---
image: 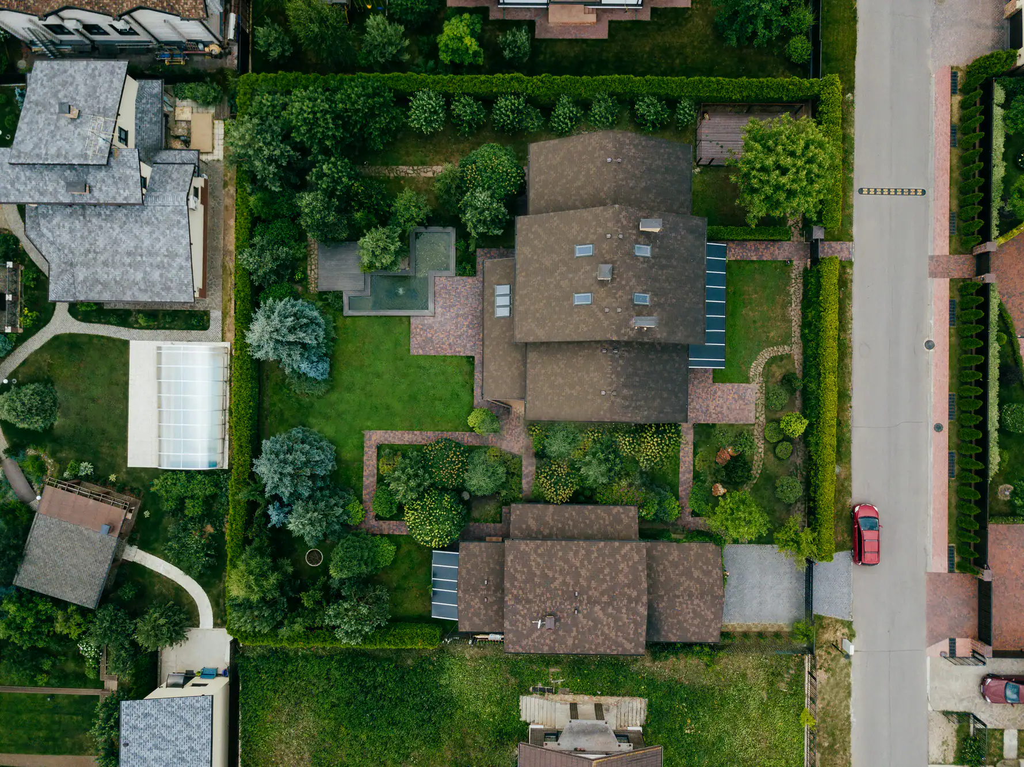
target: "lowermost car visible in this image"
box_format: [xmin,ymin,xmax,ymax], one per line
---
[980,674,1024,708]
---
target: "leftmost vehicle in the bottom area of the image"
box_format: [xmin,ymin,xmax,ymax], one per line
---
[851,504,885,566]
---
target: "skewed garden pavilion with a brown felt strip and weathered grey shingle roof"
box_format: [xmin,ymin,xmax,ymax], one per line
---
[12,474,150,611]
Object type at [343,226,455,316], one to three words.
pond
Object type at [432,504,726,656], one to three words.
house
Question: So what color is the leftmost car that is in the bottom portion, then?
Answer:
red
